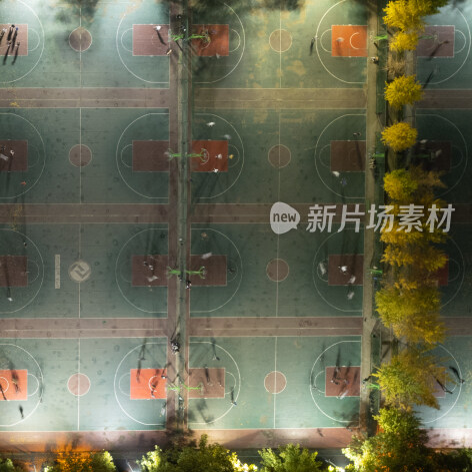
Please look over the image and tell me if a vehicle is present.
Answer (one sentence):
No, there isn't any vehicle down there.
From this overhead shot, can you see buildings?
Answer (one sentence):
No, there's no building here.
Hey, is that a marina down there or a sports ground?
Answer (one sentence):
This image shows a sports ground.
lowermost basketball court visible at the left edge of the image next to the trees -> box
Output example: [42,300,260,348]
[0,336,167,430]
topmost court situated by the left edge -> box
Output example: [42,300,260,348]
[0,0,171,90]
